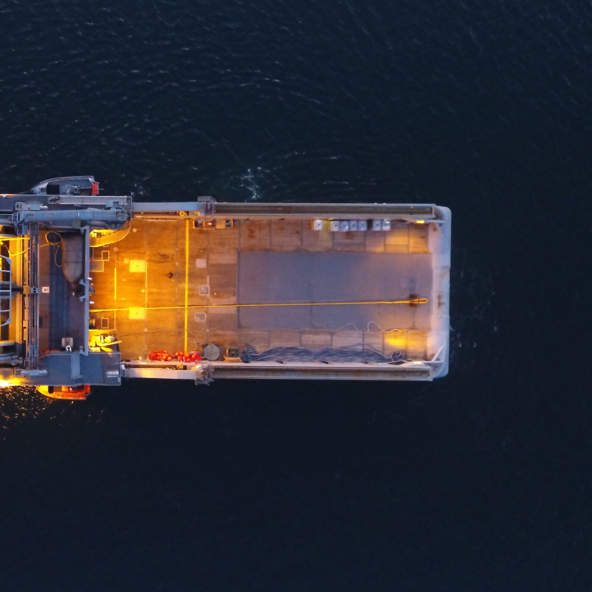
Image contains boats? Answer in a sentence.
Yes, the frame does contain a boat.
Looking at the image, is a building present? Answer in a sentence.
No, no building can be seen from above.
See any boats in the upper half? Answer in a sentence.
Yes, a boat appears in the upper half.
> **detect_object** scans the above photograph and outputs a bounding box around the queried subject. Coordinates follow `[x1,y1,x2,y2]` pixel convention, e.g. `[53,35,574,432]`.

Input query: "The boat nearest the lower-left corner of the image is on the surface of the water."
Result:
[35,384,91,400]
